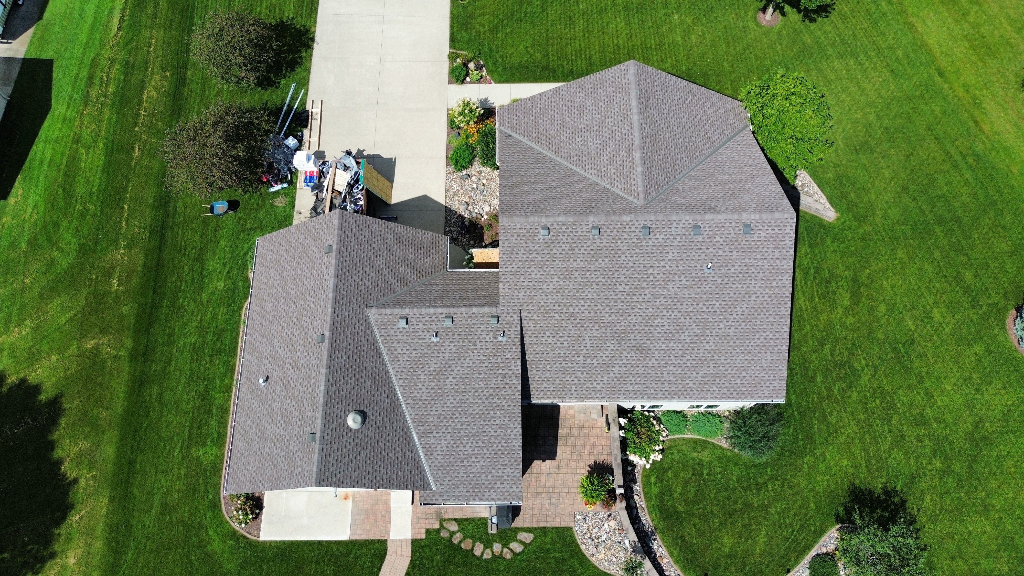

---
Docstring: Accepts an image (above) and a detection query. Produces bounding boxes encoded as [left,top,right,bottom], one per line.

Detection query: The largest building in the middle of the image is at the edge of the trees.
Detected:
[224,60,796,507]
